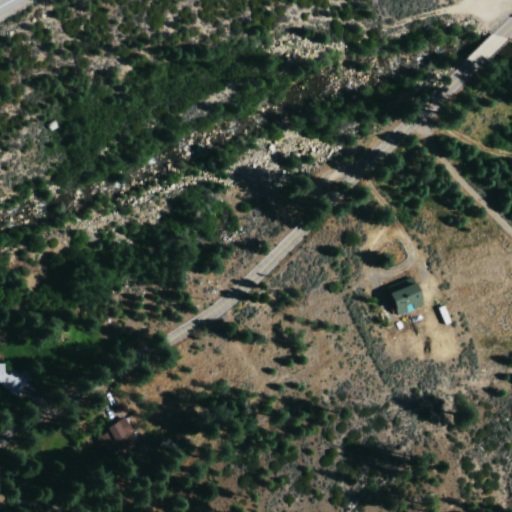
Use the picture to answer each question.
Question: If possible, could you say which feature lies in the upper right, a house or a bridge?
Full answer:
It is a bridge that can be seen in the upper right.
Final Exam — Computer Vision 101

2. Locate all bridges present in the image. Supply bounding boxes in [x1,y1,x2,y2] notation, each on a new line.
[470,27,510,70]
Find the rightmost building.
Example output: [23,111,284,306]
[392,280,426,314]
